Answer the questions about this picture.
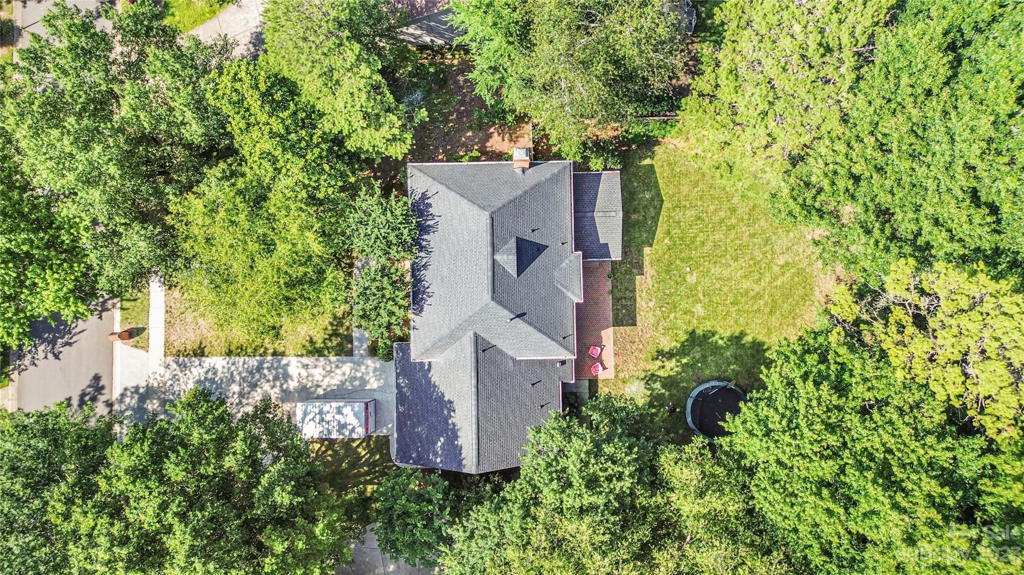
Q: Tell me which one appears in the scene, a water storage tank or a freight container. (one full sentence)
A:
I can see a freight container in this picture.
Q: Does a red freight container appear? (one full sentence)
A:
No, the frame has no red freight container in it.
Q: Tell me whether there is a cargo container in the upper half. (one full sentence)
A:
No, I see no cargo container in the upper half.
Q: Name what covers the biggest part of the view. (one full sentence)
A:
For the most part, this view shows trees.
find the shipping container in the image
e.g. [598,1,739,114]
[297,398,377,438]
